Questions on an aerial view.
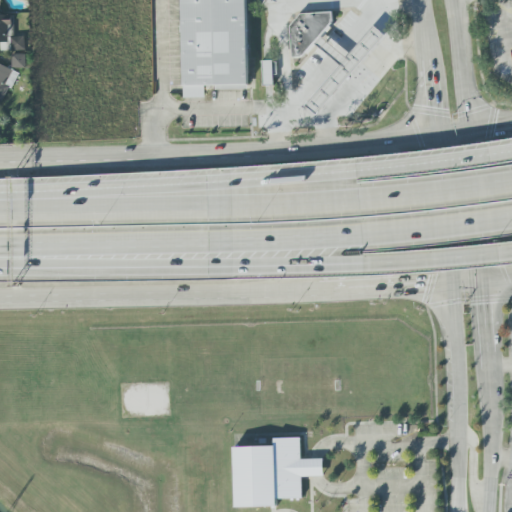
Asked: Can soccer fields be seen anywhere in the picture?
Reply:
Yes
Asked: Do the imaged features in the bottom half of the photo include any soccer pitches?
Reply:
Yes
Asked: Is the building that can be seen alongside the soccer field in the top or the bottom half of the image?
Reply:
bottom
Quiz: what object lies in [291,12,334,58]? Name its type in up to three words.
building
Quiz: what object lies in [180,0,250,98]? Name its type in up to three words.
building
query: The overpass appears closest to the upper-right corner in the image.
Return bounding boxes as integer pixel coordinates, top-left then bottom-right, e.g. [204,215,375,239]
[356,138,512,178]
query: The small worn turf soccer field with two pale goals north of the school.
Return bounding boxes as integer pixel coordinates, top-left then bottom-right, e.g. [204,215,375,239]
[261,357,352,416]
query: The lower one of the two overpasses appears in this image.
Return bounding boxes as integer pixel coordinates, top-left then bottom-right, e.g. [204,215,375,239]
[365,242,512,274]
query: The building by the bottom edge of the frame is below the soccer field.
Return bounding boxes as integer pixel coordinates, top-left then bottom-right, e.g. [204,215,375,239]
[232,437,324,508]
